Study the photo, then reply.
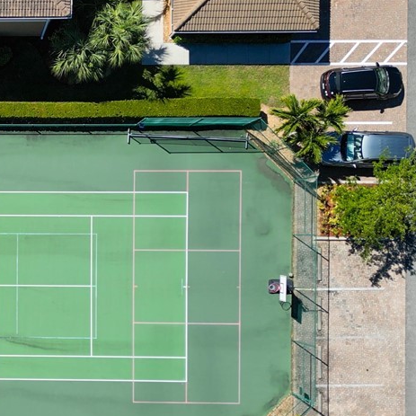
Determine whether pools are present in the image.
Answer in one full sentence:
No, no pool is visible in the view.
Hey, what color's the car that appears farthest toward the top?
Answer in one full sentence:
The car that appears farthest toward the top looks black in the image.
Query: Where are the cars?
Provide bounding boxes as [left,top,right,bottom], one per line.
[315,62,401,105]
[317,127,416,171]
